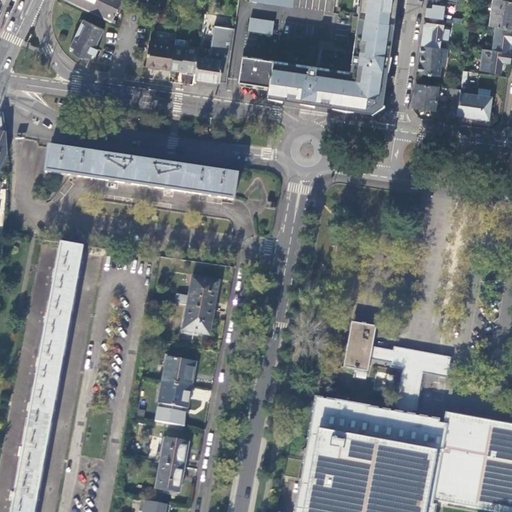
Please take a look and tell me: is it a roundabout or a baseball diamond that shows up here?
roundabout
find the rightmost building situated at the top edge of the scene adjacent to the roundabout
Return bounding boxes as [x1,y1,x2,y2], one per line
[266,0,397,116]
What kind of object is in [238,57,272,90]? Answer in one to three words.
building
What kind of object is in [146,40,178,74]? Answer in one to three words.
house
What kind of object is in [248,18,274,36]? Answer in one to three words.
building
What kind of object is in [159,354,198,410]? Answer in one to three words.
house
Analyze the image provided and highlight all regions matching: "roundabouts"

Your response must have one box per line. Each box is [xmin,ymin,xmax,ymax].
[276,119,334,181]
